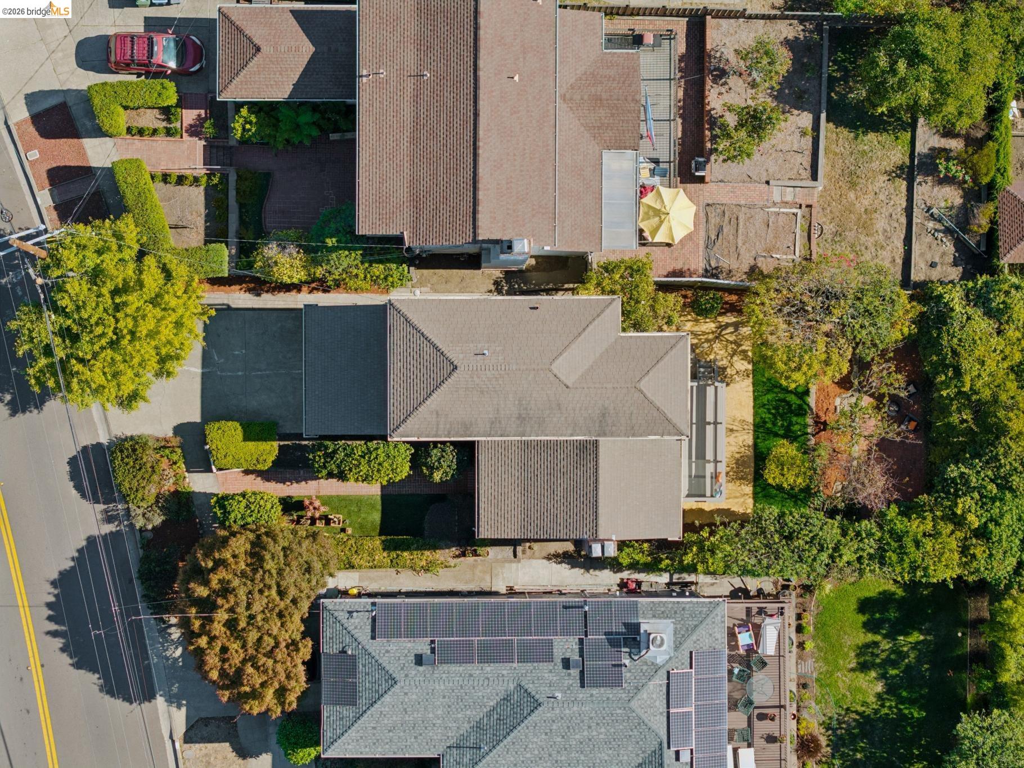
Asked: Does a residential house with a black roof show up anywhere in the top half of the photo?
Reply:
No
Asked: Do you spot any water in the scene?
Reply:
No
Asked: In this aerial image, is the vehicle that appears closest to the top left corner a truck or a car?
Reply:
car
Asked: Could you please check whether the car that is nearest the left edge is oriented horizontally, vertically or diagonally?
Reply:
horizontally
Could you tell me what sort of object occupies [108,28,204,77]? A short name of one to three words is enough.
car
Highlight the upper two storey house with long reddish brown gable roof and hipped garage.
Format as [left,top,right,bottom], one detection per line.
[216,0,641,270]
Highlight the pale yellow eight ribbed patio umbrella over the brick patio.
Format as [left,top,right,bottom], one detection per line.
[639,184,697,244]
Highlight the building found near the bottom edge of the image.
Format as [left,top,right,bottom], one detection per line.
[318,596,729,768]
